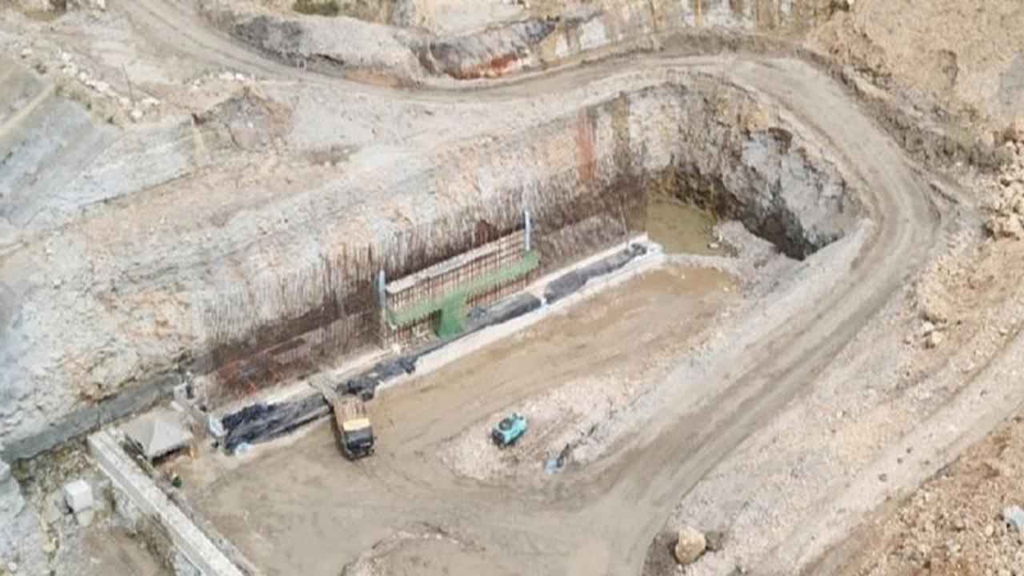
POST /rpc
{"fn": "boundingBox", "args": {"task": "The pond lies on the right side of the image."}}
[638,173,744,251]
